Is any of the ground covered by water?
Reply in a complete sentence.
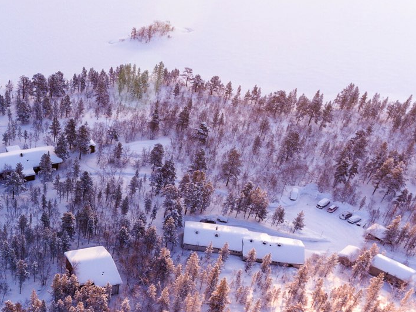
Yes, there is water in the image.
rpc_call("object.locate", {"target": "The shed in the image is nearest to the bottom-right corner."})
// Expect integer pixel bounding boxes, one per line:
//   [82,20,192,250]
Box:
[370,252,416,288]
